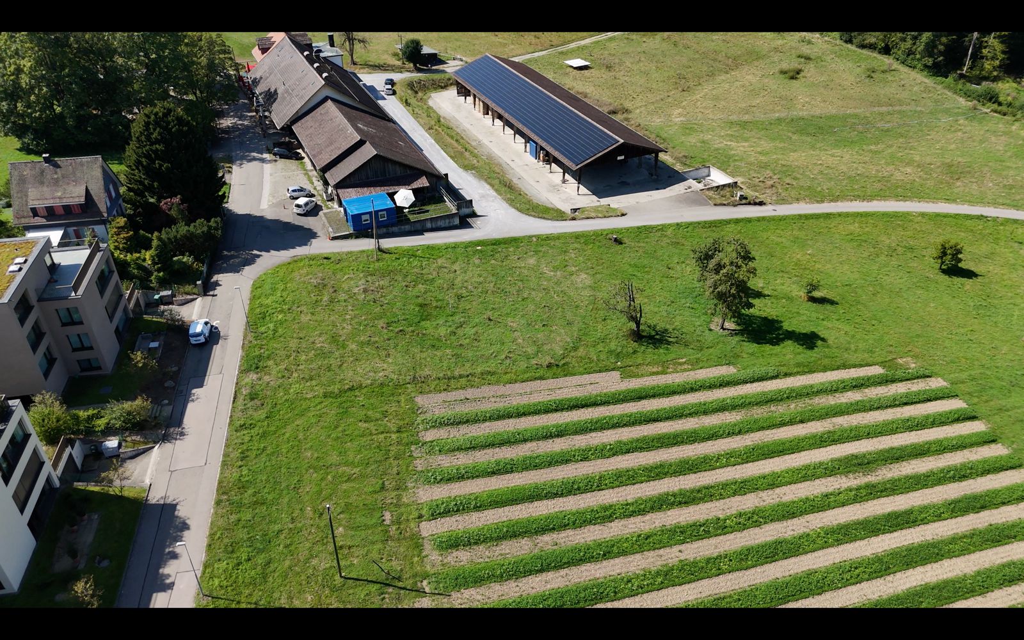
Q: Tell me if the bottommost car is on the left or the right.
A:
left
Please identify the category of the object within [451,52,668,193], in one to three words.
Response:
building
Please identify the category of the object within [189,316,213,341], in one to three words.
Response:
car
